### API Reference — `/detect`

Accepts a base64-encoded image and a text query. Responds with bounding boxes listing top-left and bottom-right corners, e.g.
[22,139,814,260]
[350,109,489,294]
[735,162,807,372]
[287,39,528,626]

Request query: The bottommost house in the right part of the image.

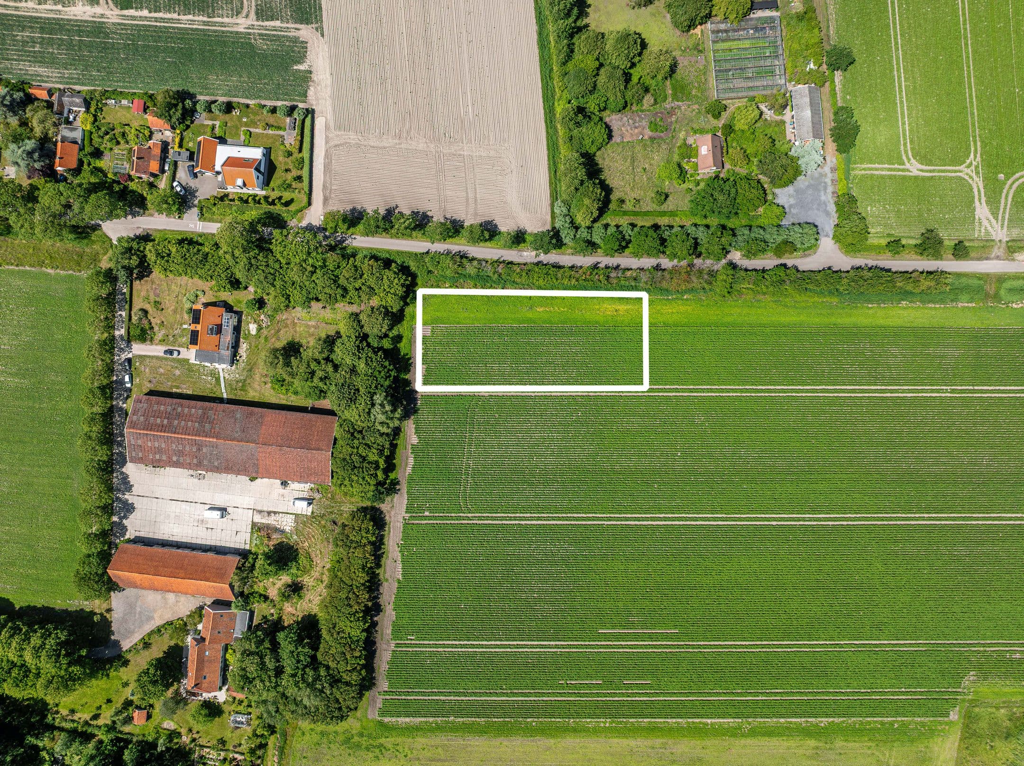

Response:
[694,134,722,172]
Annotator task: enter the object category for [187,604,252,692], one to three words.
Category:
house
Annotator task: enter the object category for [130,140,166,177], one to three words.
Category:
house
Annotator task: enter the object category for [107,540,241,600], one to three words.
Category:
barn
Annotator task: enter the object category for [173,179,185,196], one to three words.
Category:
vehicle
